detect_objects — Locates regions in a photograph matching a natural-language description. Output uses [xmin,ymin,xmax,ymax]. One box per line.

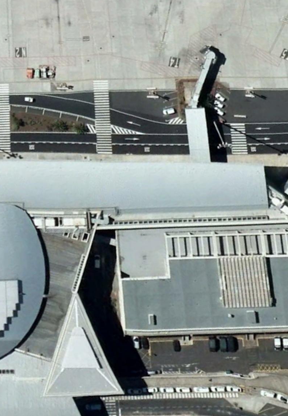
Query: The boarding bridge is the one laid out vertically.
[189,40,218,107]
